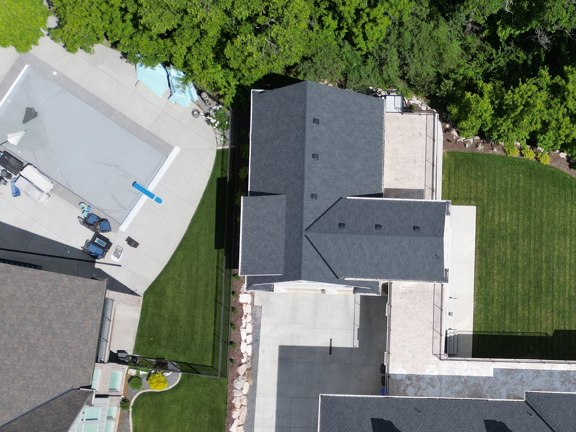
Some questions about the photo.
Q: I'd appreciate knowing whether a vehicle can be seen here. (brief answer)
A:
No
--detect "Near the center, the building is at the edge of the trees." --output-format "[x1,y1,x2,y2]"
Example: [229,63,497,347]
[238,80,453,298]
